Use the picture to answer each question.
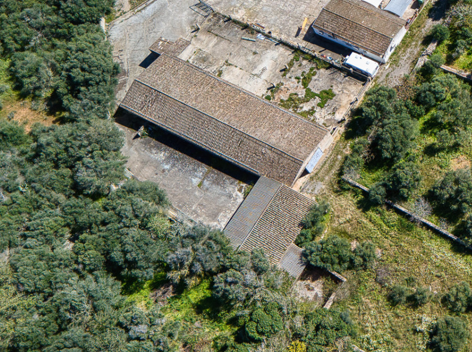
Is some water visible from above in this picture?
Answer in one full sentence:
No, no water is visible.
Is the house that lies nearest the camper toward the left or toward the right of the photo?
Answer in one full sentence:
The house that lies nearest the camper is on the right side of the image.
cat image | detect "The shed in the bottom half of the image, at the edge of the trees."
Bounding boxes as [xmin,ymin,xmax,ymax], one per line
[218,175,316,279]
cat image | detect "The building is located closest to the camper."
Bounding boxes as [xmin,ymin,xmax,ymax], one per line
[312,0,407,63]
